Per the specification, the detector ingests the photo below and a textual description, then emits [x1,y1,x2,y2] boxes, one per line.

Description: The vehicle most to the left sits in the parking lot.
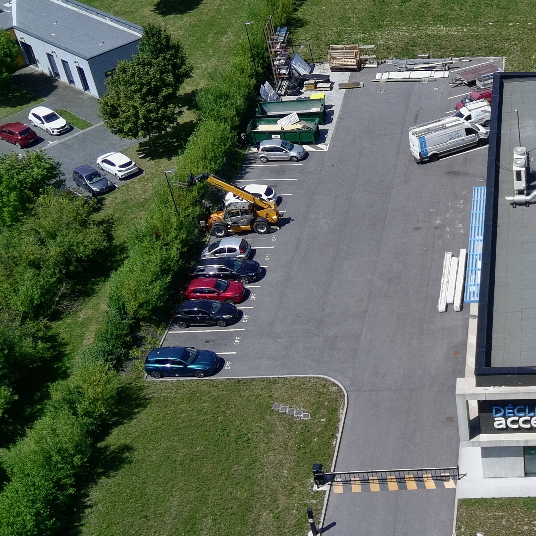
[0,120,34,147]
